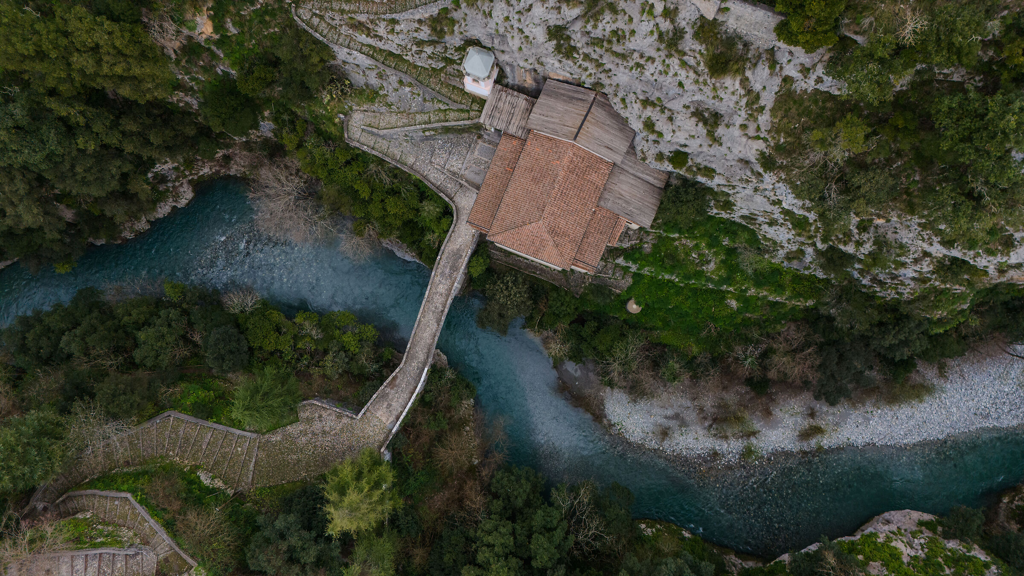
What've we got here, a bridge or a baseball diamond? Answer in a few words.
bridge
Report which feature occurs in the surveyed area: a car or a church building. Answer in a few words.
church building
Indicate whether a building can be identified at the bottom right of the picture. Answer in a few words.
No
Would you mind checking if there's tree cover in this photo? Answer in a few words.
Yes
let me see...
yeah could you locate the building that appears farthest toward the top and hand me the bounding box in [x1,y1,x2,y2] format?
[462,47,499,98]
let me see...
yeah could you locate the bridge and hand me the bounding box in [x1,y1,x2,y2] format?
[358,213,481,450]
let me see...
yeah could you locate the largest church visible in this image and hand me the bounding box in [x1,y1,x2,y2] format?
[466,78,667,273]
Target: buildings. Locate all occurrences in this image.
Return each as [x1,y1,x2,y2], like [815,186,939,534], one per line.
[466,78,667,273]
[462,47,499,98]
